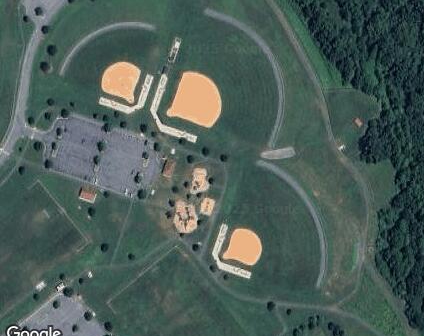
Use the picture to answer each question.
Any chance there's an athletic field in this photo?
Yes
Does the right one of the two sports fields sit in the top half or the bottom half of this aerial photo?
bottom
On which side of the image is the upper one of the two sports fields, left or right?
left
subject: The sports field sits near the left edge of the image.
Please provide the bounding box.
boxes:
[0,180,90,286]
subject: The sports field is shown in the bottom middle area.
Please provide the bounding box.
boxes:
[108,246,239,336]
